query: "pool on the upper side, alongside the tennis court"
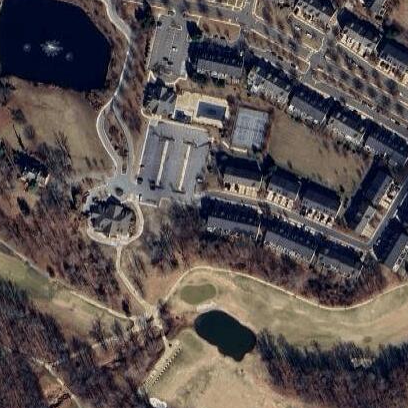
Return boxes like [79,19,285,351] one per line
[174,92,229,128]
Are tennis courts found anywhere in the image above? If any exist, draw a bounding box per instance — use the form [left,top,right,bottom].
[230,106,268,151]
